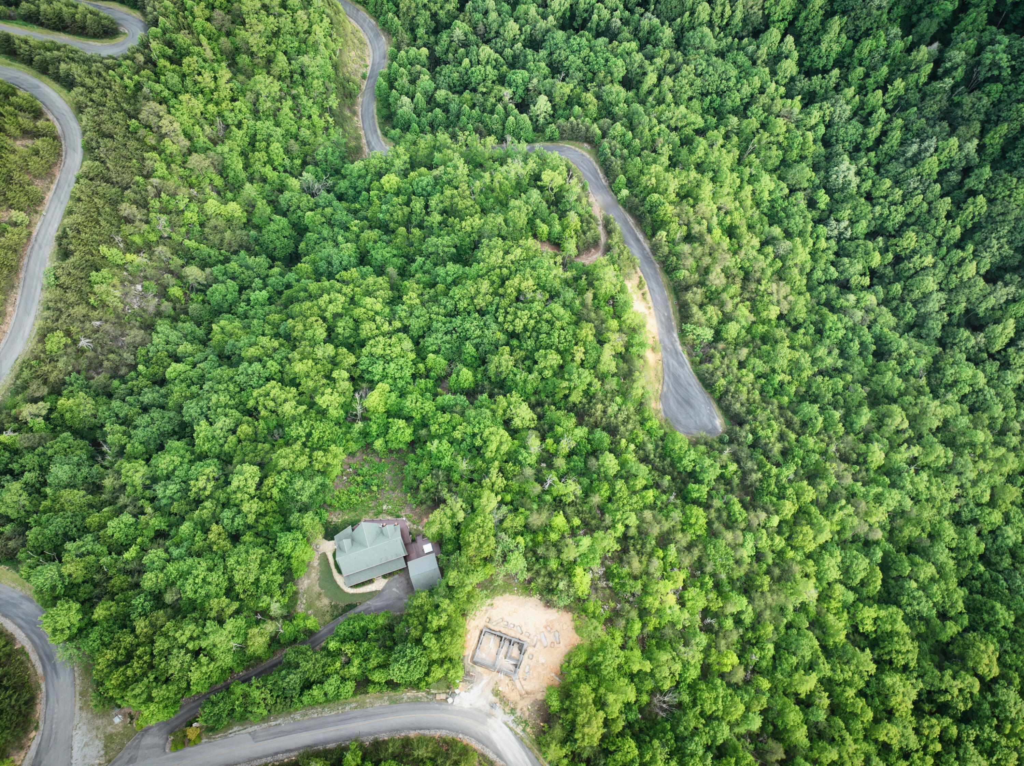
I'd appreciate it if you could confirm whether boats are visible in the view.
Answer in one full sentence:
No, I can't see a single boat in this photo.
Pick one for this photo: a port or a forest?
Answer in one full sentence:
The area seen from above is a forest.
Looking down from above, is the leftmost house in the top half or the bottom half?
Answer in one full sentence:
It is in the bottom half that the leftmost house appears.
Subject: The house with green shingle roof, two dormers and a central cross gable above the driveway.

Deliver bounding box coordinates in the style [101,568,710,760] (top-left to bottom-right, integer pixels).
[334,522,408,588]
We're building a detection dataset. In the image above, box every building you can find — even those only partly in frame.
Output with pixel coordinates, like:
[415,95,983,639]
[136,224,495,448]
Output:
[334,522,408,588]
[407,553,441,592]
